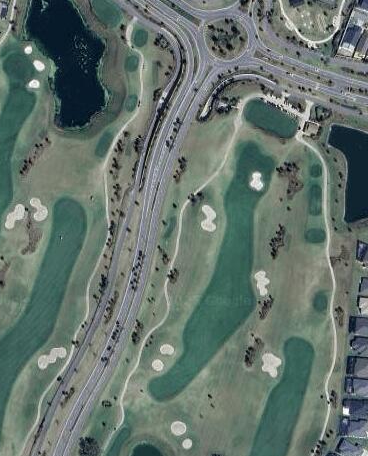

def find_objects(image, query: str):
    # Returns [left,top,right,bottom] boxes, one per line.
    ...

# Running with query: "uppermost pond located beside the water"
[25,0,105,127]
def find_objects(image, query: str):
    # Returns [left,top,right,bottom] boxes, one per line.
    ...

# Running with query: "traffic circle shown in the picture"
[194,7,261,72]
